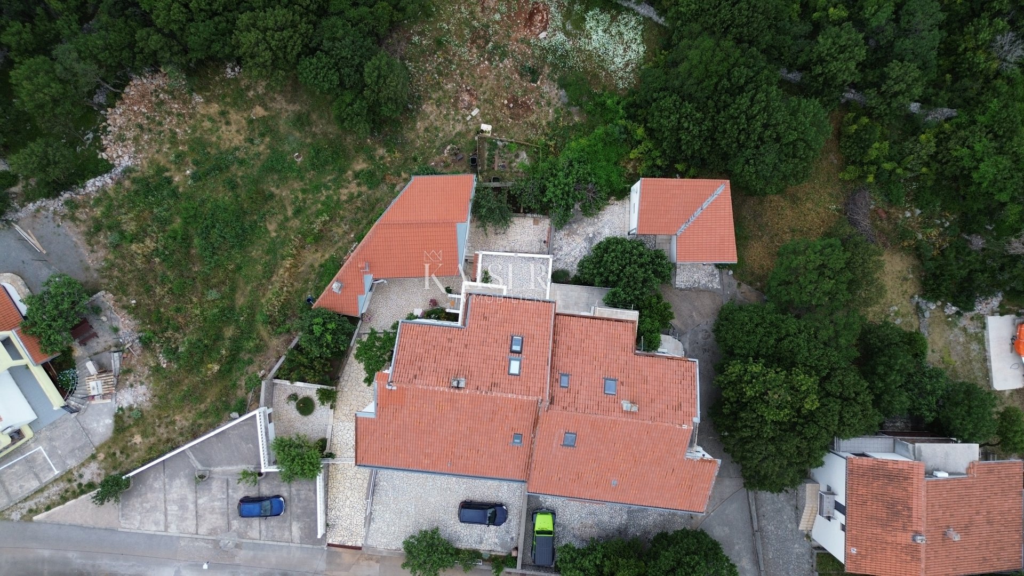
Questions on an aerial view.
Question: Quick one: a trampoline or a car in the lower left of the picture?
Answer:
car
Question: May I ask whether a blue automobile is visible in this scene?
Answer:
Yes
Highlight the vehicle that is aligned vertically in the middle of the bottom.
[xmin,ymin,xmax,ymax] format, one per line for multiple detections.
[530,512,557,569]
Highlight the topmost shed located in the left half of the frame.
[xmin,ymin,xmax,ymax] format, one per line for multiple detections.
[313,173,477,319]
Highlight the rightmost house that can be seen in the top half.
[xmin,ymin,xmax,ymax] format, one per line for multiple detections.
[629,177,739,267]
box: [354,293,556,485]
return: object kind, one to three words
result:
house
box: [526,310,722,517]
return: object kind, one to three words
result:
house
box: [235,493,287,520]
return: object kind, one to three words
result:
car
